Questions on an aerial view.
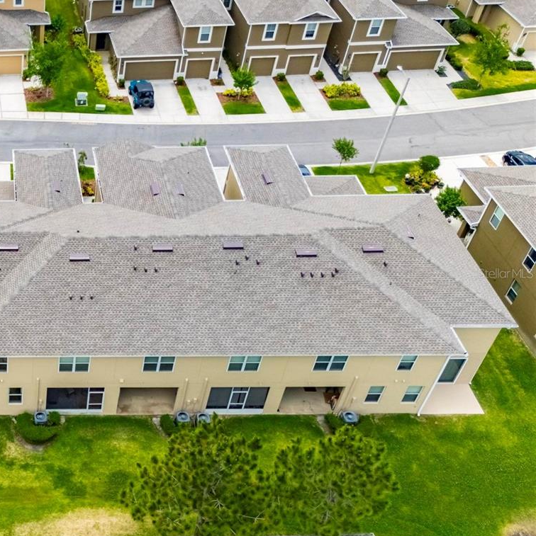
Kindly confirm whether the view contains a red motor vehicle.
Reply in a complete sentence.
No, the picture doesn't show any red motor vehicle.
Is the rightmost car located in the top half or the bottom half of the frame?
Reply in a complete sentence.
The rightmost car is in the top half of the image.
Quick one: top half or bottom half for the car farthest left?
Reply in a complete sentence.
You can find the car farthest left in the top half.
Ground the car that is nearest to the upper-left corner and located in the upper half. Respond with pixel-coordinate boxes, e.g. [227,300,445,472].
[127,81,157,107]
